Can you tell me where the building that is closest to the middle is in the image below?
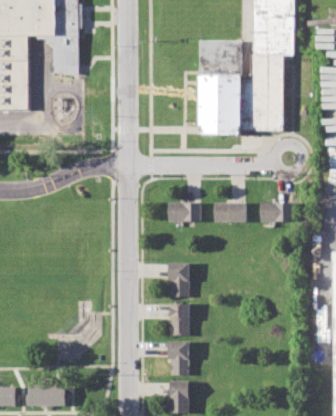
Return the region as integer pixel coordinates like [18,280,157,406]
[164,201,191,226]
